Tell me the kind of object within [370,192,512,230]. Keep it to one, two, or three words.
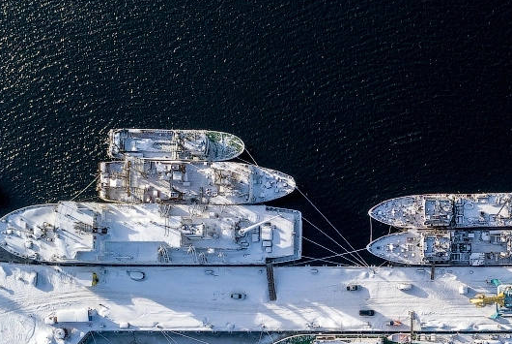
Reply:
boat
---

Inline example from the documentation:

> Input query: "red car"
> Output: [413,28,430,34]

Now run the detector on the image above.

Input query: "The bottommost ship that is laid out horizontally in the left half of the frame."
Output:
[0,199,307,267]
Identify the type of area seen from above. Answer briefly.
port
